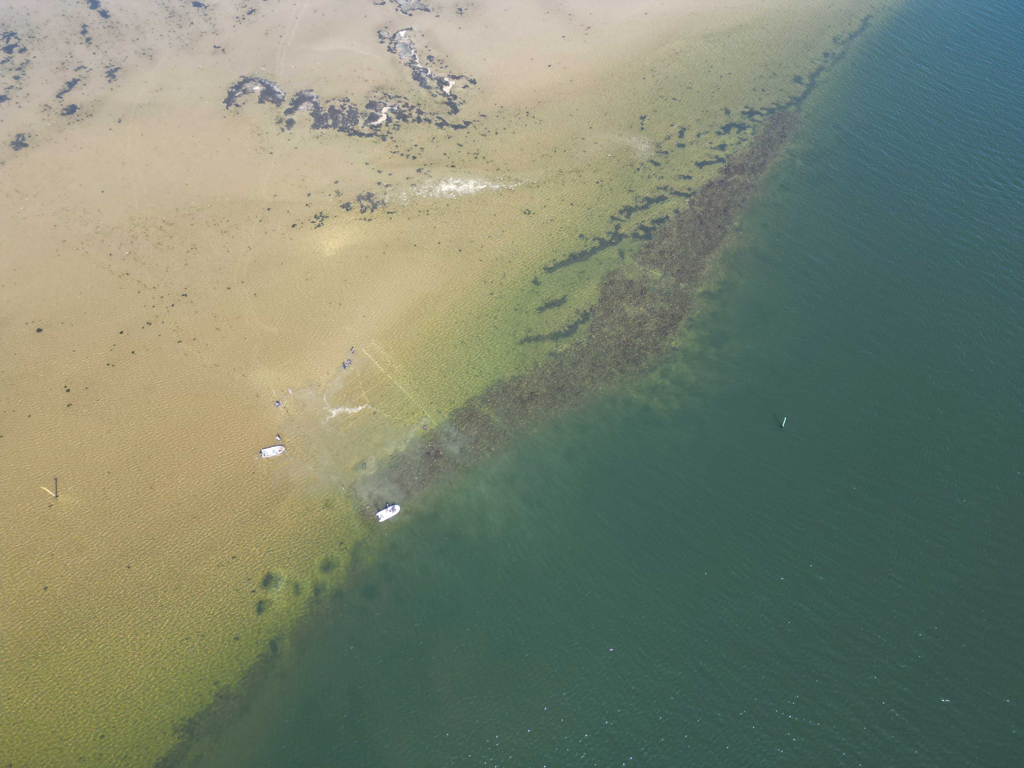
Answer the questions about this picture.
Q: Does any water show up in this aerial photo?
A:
Yes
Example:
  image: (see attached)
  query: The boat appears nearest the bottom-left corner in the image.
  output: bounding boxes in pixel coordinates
[259,446,285,458]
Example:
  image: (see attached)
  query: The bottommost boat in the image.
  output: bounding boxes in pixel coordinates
[376,506,401,521]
